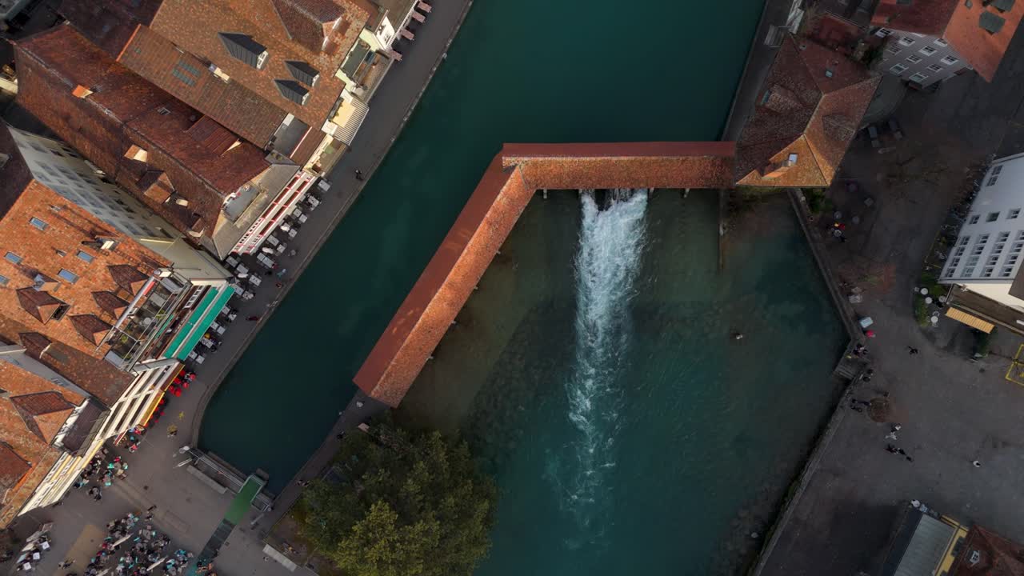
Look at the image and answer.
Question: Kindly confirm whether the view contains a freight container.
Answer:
No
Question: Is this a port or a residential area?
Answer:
residential area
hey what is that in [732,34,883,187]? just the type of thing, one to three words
house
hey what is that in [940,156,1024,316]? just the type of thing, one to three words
building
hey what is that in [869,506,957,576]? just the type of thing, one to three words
building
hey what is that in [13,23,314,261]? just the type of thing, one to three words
house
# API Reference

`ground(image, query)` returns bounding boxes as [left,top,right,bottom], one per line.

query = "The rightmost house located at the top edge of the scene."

[851,0,1024,96]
